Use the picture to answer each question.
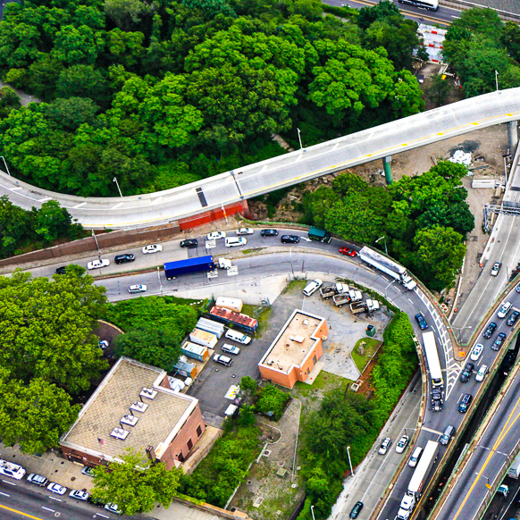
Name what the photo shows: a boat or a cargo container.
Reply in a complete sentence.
The image shows a cargo container.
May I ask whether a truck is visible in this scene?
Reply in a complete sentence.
Yes, looking at the shot, I can spot a truck.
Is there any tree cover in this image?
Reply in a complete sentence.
Yes, the picture does contain tree cover.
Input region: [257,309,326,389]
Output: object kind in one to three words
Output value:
building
